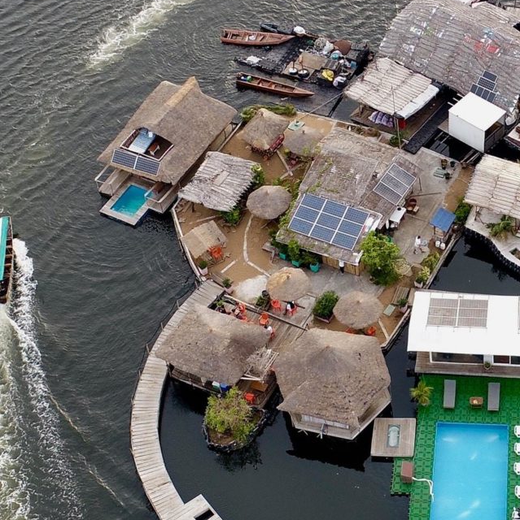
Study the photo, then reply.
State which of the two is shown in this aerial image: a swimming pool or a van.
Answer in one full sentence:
Visible in the photo is a swimming pool.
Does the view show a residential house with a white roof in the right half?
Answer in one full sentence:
Yes, the scene does show a residential house with a white roof in the right half.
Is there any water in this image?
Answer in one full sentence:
Yes, some water is visible.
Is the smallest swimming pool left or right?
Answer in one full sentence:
It is on the left.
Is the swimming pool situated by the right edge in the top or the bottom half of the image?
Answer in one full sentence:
The bottom half of the photo is where the swimming pool situated by the right edge is.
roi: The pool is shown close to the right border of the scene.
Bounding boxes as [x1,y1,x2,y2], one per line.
[430,422,510,520]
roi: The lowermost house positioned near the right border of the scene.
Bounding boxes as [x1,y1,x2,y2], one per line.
[407,292,520,379]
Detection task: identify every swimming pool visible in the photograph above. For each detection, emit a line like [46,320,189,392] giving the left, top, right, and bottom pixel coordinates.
[430,422,510,520]
[110,185,154,219]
